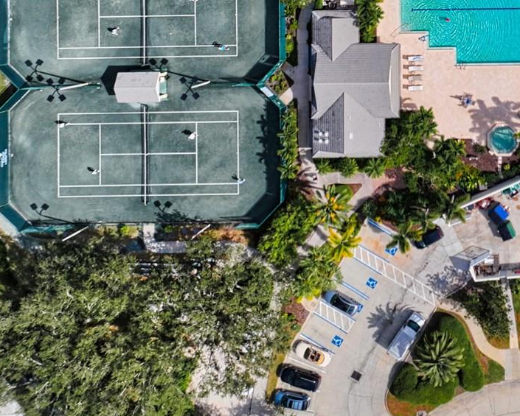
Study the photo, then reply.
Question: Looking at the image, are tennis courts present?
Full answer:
Yes, the picture does show a tennis court.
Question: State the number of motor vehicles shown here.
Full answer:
The number of motor vehicles here is 6.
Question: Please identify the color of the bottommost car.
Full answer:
From above, the bottommost car appears blue.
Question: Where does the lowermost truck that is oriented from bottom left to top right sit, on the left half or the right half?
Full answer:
You can find the lowermost truck that is oriented from bottom left to top right on the right side of the picture.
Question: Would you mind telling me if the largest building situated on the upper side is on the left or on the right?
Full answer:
The largest building situated on the upper side sits on the right side.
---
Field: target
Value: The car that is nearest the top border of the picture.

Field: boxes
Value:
[413,222,446,251]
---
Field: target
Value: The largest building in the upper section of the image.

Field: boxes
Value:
[312,12,400,158]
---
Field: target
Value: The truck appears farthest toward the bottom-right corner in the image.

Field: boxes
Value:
[386,312,423,360]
